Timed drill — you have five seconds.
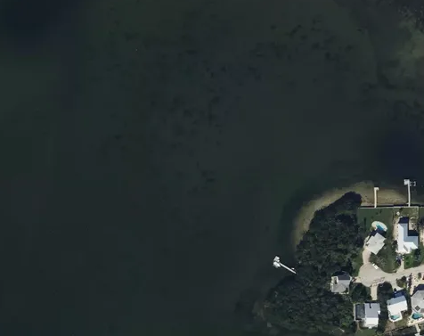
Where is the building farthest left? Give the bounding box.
[332,274,352,293]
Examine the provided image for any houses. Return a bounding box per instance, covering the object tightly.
[364,303,382,327]
[397,222,420,251]
[332,274,352,293]
[387,295,409,315]
[413,288,424,314]
[368,232,387,254]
